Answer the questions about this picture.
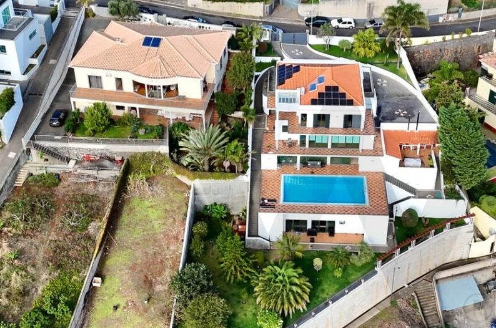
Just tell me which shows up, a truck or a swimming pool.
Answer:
swimming pool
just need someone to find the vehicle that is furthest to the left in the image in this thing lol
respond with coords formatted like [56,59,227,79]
[50,108,66,128]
